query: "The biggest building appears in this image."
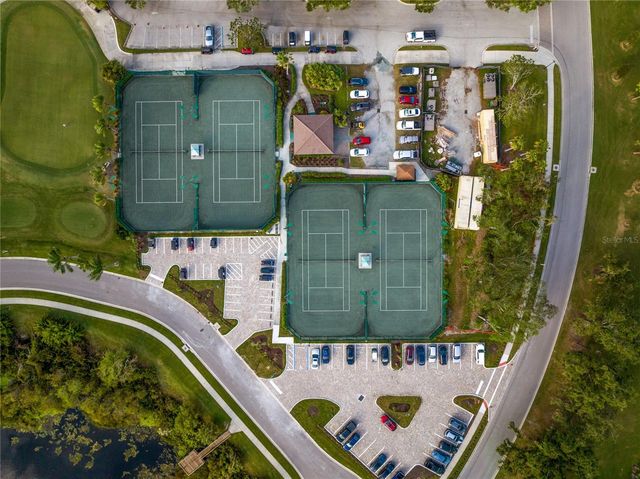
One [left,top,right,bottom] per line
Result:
[291,113,333,154]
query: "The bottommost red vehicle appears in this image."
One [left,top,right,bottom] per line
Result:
[380,413,398,431]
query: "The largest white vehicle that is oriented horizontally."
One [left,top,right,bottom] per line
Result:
[406,29,436,43]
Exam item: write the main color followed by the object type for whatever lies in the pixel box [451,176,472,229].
white trailer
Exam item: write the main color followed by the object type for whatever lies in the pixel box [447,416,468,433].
blue car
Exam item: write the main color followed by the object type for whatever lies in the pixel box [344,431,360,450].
blue car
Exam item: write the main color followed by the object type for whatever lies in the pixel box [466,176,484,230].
white trailer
